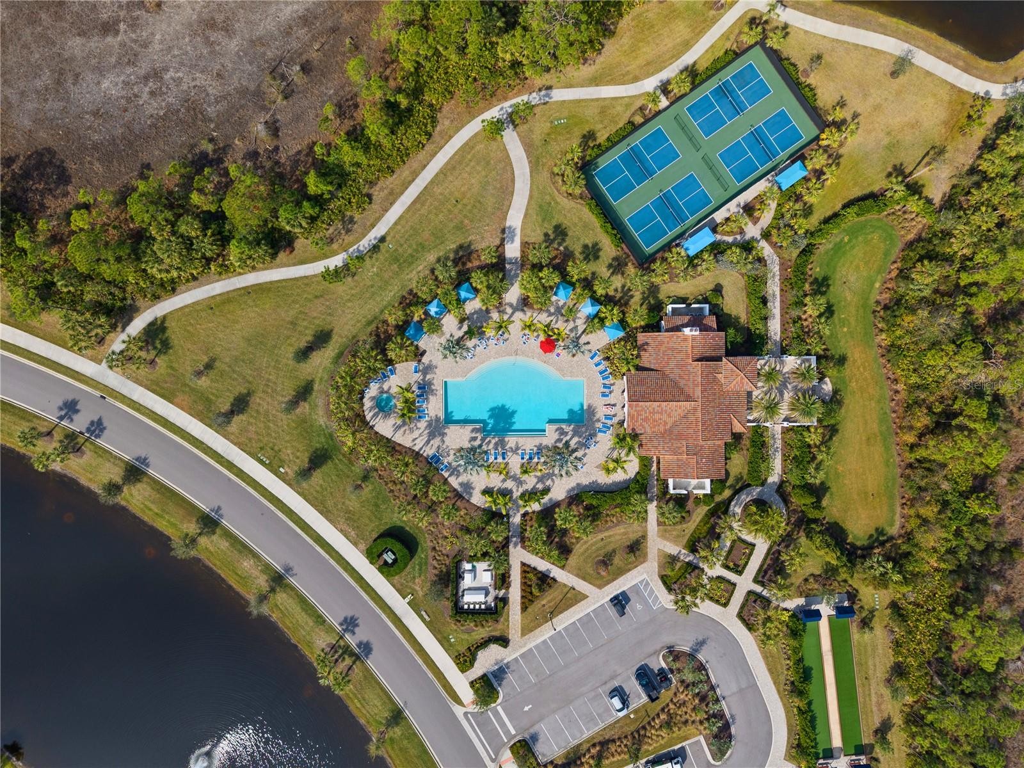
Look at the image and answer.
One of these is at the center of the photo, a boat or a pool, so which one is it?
pool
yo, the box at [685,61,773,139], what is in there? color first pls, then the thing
blue sports court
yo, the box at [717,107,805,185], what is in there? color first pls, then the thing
blue sports court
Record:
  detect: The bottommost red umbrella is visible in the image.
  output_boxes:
[540,338,555,353]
